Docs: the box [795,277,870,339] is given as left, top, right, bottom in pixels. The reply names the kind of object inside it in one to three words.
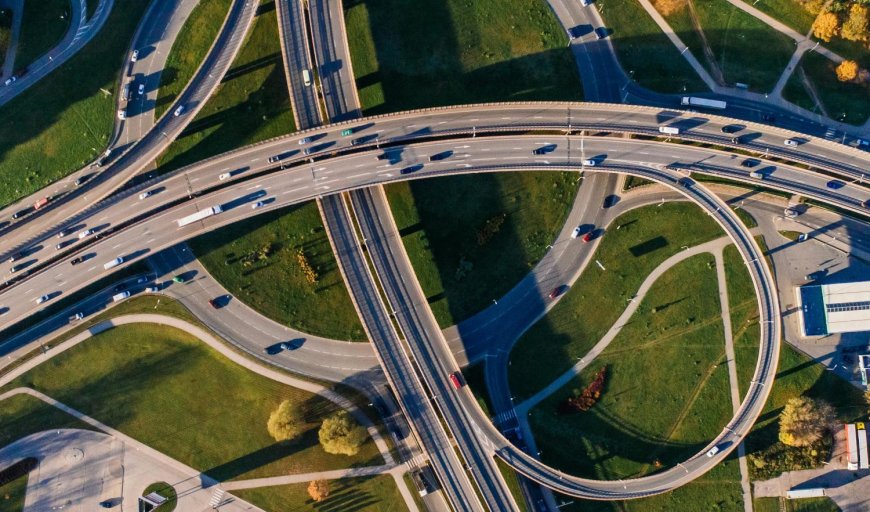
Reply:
building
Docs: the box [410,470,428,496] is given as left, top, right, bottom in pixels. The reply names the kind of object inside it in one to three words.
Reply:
vehicle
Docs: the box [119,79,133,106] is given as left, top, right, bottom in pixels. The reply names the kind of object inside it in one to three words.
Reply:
vehicle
